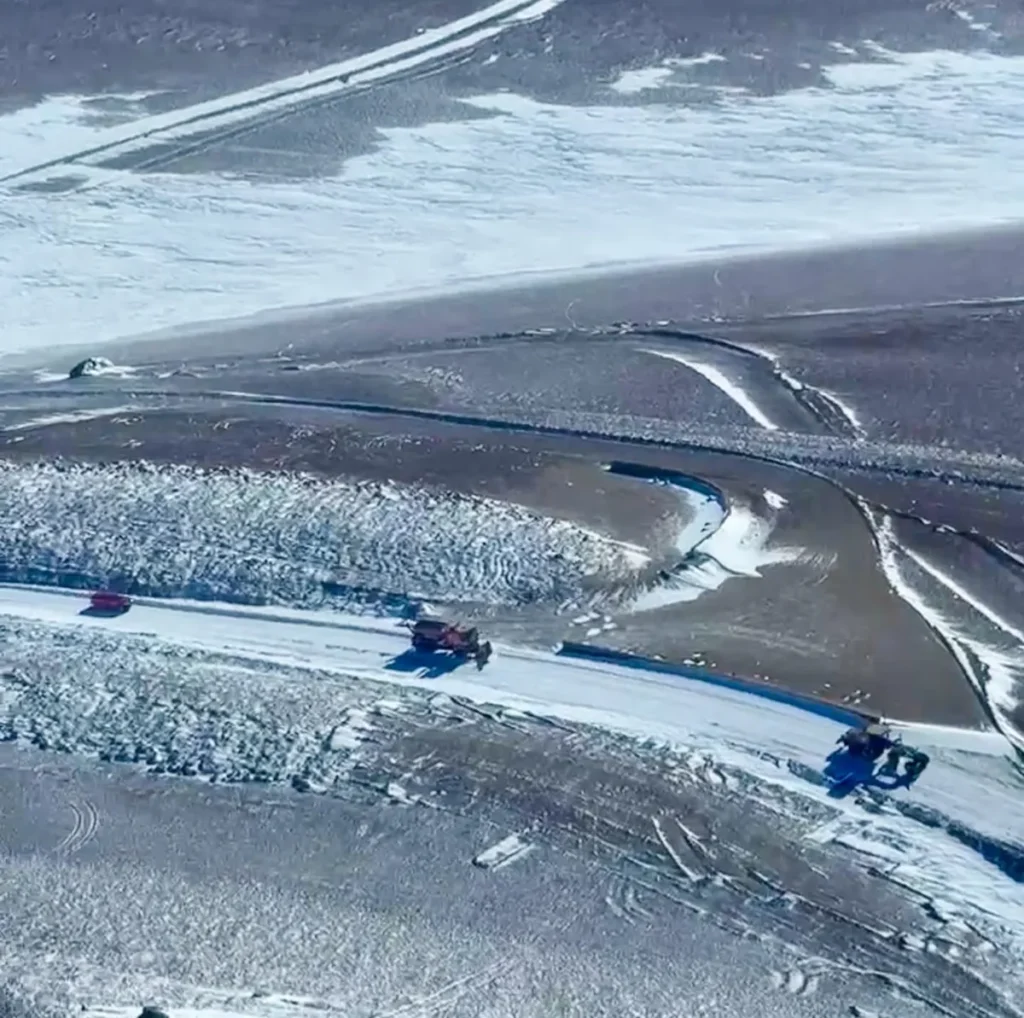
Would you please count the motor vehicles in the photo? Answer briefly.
3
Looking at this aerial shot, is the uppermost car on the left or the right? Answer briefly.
left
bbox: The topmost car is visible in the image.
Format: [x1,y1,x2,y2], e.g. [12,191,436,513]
[87,590,133,613]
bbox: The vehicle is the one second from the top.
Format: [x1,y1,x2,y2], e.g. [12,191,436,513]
[408,621,491,672]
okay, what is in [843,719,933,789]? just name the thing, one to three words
work vehicle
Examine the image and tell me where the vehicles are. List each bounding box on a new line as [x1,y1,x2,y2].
[408,621,491,672]
[87,590,133,613]
[843,719,933,789]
